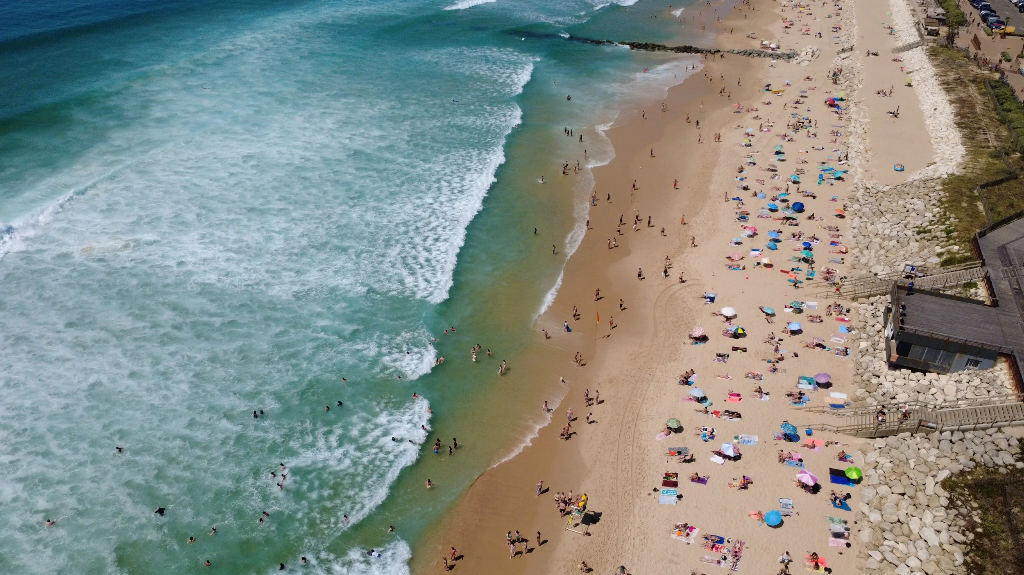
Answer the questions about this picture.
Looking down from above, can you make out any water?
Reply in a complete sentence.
Yes, there is water in the image.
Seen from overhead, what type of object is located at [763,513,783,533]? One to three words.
umbrella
